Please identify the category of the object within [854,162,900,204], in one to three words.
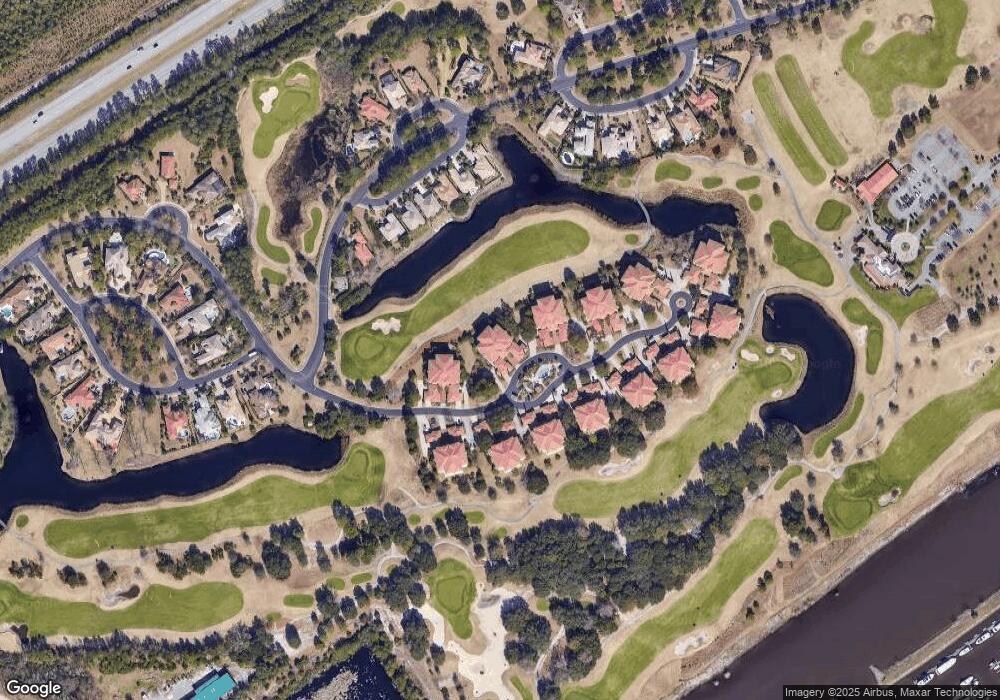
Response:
barn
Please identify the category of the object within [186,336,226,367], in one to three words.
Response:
house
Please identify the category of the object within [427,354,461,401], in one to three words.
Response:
building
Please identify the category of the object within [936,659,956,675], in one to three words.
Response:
boat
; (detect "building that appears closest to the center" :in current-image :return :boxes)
[477,325,526,376]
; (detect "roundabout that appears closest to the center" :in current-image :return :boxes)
[515,360,562,401]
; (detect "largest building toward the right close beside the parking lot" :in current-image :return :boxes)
[853,233,913,293]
